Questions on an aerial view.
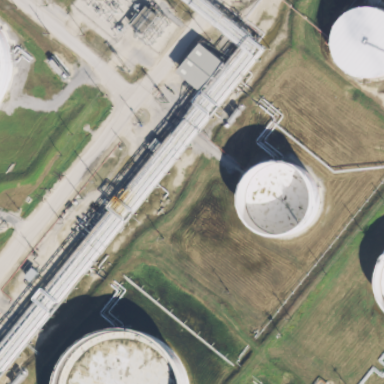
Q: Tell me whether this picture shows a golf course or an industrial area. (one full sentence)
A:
The picture captures an industrial area.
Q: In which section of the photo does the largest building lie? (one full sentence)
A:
You can find the largest building in the top area of the picture.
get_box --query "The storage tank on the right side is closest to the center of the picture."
[234,158,324,240]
